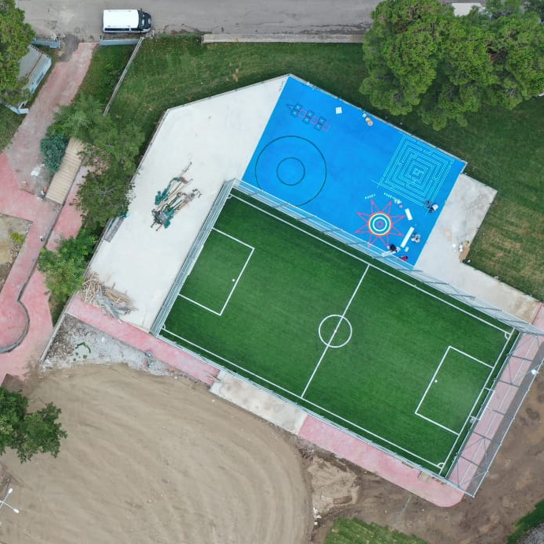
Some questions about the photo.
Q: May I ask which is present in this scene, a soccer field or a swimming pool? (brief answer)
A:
soccer field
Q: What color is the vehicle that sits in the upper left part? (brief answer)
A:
white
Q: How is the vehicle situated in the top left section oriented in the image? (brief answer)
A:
from side to side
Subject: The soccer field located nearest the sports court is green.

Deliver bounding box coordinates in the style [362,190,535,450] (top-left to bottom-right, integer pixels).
[153,182,519,479]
